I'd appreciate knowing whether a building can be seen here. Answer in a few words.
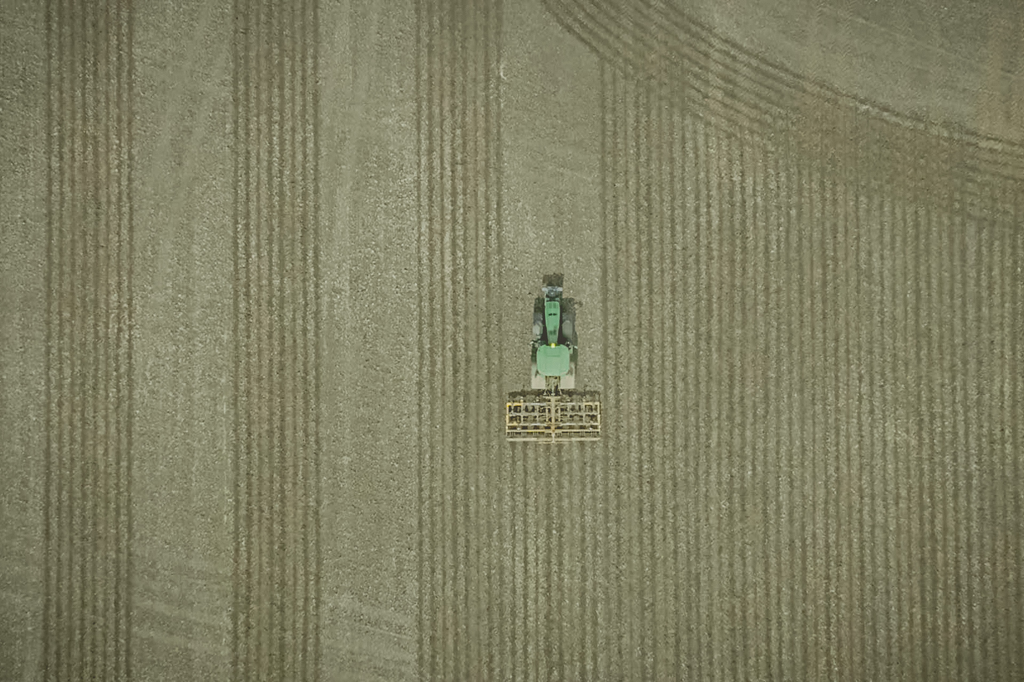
No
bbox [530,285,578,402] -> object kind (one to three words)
work vehicle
